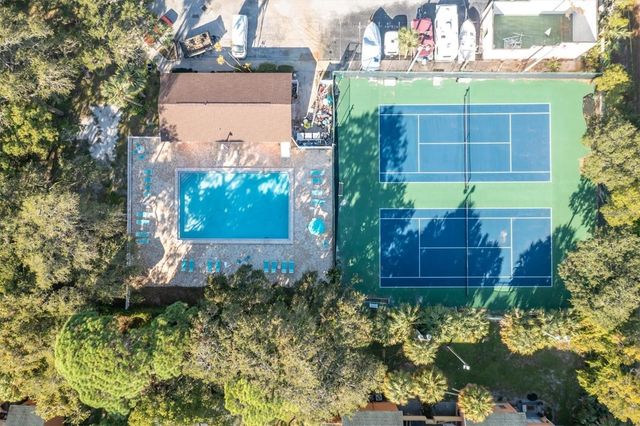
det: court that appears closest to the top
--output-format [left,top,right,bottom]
[482,0,599,59]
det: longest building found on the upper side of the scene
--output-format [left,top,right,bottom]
[157,72,292,144]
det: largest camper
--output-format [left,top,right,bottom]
[436,2,458,63]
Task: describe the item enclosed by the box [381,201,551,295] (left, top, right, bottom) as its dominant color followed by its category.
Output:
blue tennis court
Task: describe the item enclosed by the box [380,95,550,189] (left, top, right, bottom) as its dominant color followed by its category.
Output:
blue tennis court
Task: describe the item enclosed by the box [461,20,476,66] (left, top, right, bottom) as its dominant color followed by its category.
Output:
white boat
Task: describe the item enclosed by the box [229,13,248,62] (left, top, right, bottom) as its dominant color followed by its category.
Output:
white vehicle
